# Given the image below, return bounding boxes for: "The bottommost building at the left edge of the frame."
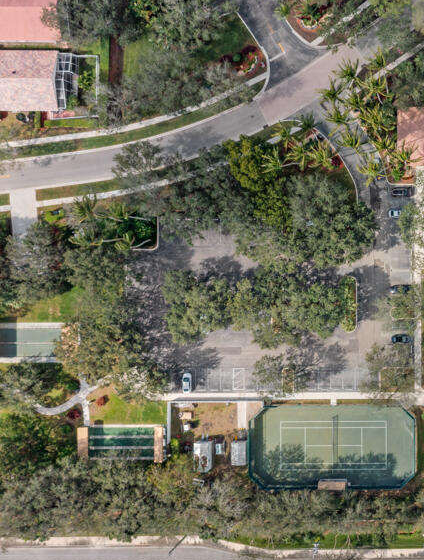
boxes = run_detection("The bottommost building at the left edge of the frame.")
[0,49,63,112]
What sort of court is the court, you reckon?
tennis court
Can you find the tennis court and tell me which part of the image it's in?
bottom right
